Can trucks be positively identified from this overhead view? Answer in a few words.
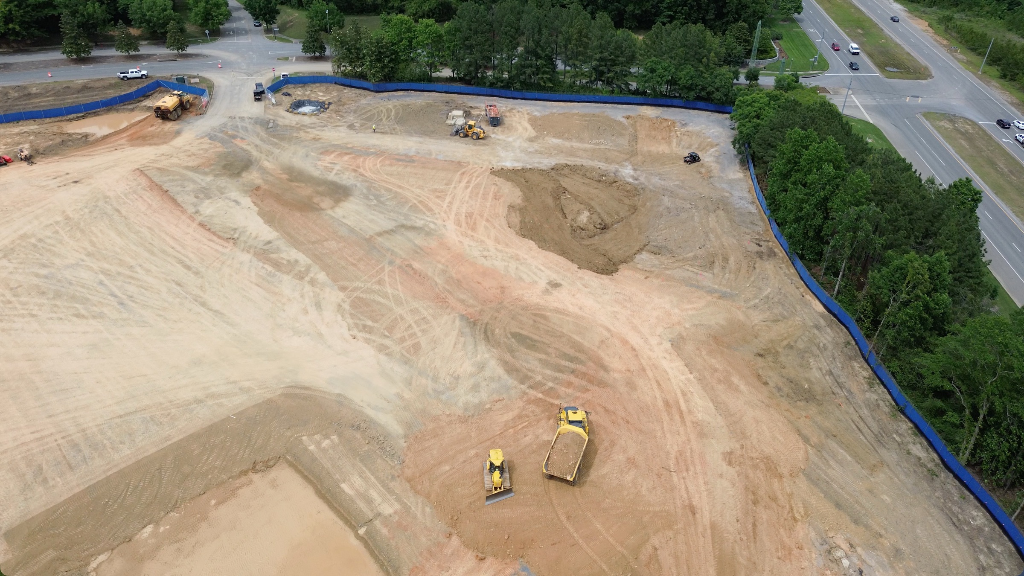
Yes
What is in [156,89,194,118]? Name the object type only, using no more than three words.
truck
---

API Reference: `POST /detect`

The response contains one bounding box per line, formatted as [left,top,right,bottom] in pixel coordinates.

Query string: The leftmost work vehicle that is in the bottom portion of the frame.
[483,452,513,506]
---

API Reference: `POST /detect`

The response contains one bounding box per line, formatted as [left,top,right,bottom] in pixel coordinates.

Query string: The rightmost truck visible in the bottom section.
[543,409,588,487]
